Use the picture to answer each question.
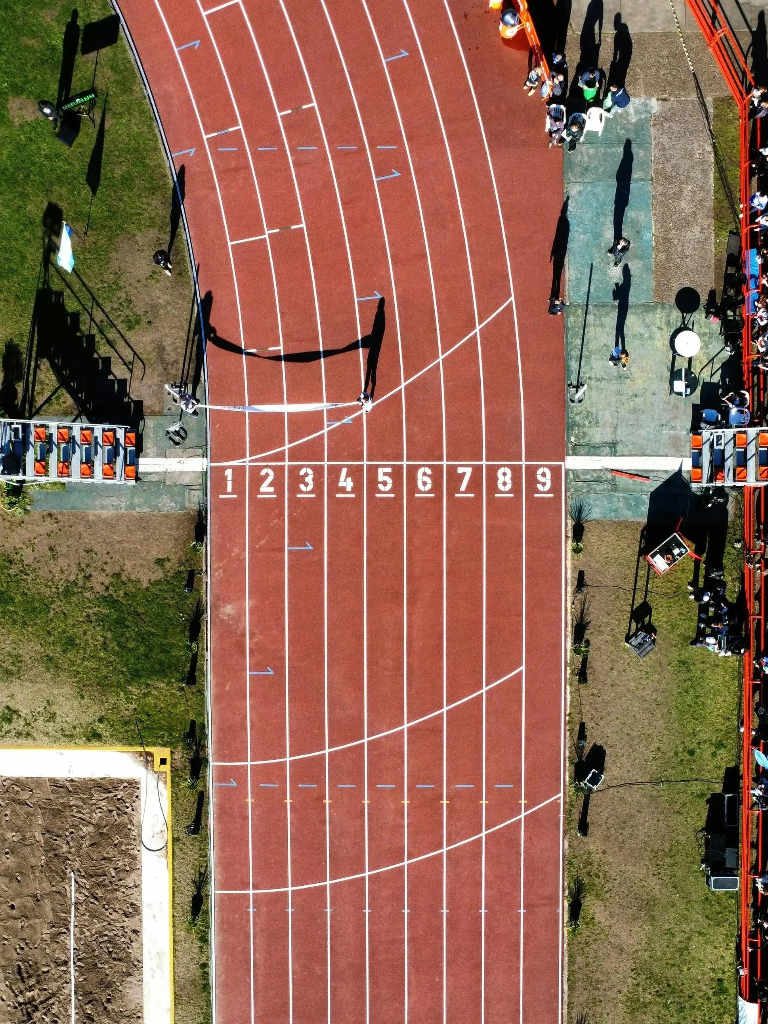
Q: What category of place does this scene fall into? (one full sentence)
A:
It's a sports ground.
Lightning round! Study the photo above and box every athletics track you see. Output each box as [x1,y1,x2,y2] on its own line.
[117,0,566,1024]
